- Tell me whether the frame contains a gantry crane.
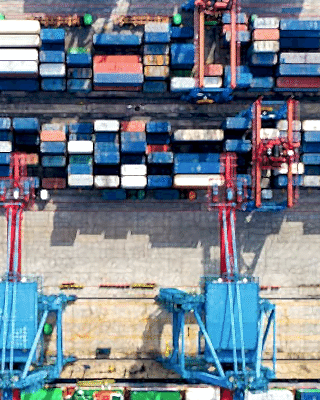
Yes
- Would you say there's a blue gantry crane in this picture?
Yes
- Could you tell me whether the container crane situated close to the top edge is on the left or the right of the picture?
right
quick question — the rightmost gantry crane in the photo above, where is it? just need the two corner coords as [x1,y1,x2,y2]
[240,93,297,216]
